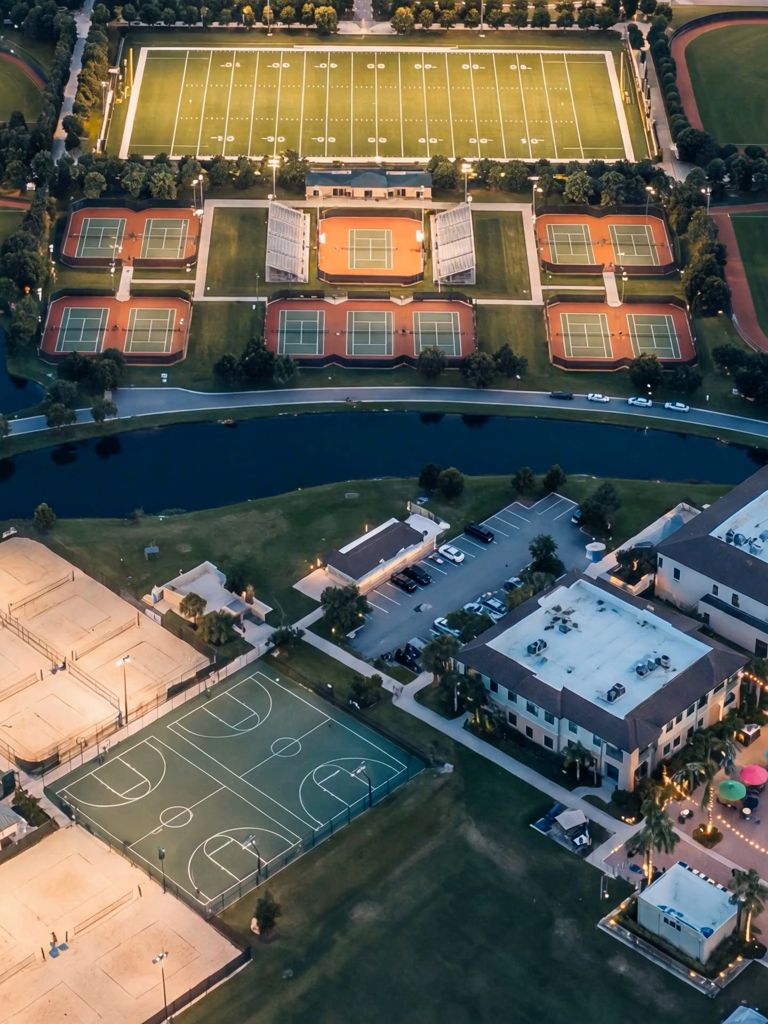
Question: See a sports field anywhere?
Yes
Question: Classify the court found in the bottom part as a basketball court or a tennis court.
basketball court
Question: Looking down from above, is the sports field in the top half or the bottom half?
top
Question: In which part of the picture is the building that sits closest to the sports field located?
top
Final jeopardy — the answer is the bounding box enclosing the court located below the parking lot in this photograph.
[45,663,426,916]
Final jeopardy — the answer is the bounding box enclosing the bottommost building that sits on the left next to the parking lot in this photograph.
[143,563,273,632]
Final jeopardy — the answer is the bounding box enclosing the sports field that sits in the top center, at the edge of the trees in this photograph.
[128,50,625,158]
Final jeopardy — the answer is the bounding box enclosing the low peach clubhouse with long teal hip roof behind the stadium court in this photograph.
[304,165,434,204]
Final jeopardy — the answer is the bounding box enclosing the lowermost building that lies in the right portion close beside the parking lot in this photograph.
[454,570,768,786]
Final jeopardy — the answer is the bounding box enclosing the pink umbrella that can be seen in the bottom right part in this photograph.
[740,768,767,789]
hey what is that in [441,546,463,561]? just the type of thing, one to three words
car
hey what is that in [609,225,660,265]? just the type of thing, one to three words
tennis court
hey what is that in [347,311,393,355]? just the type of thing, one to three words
tennis court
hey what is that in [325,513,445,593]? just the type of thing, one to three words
building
